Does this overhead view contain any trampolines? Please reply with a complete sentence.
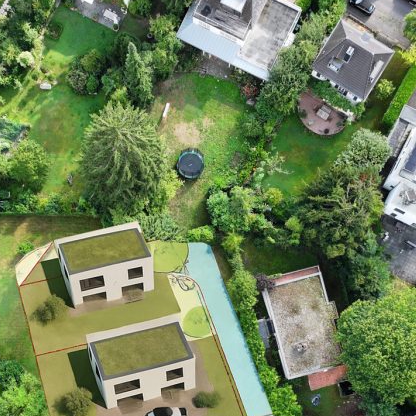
Yes, this view includes a trampoline.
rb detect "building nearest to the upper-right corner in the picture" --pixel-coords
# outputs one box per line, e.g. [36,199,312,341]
[311,19,394,103]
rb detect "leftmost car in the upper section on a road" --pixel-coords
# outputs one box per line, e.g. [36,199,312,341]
[347,0,377,18]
